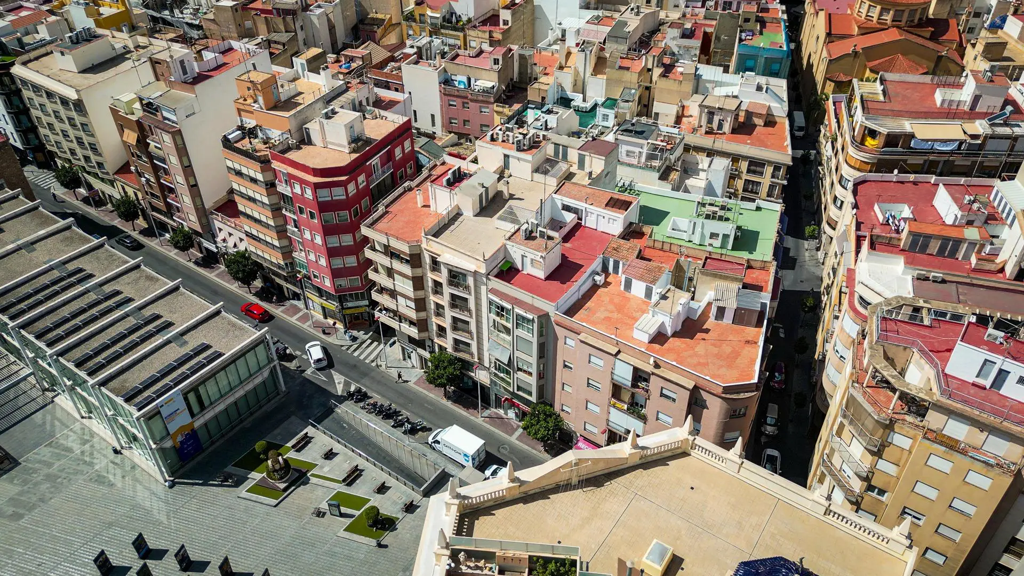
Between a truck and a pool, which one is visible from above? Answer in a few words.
truck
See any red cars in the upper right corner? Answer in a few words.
No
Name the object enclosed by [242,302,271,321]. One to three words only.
car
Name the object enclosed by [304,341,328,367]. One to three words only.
car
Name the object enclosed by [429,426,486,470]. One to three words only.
truck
